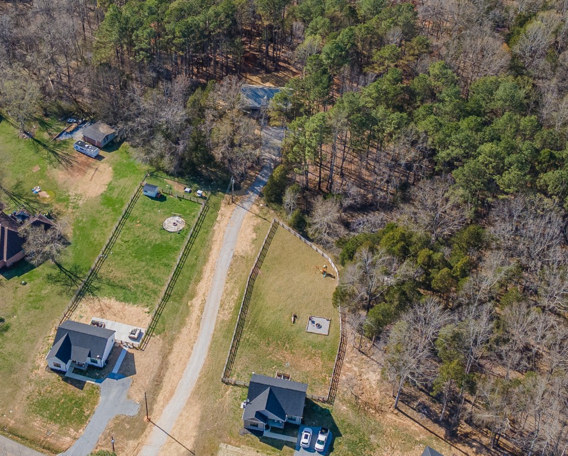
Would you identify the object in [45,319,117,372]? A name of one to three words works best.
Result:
house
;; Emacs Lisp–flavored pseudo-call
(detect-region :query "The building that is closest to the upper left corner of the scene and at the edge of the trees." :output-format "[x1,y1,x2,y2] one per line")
[82,122,119,151]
